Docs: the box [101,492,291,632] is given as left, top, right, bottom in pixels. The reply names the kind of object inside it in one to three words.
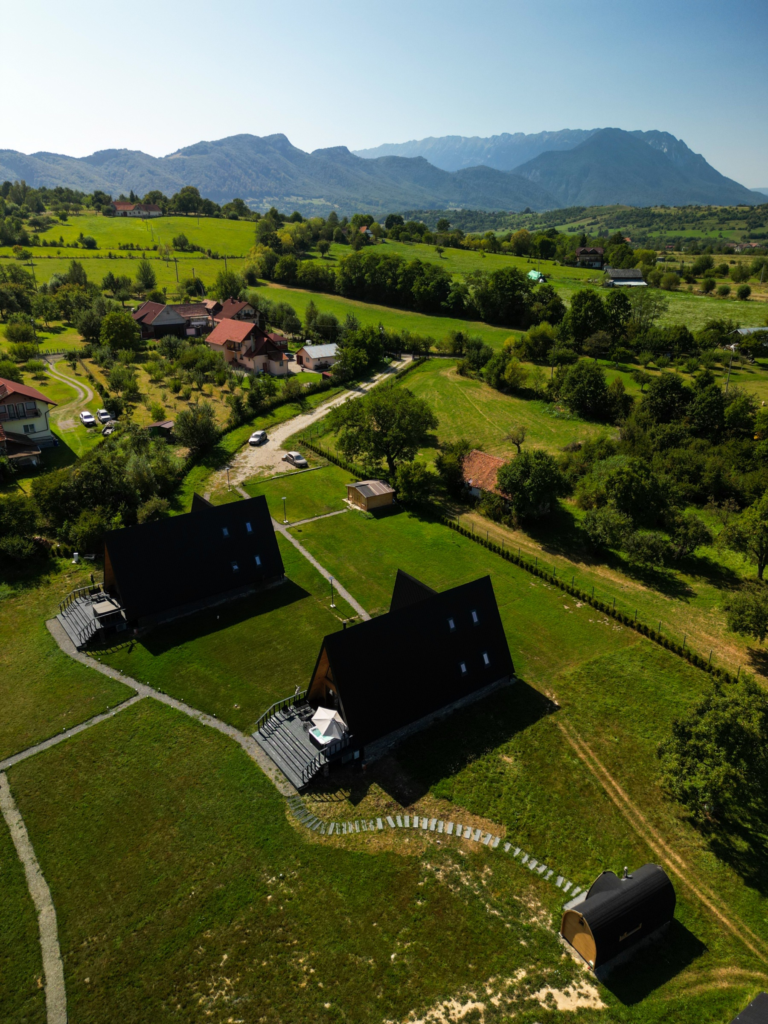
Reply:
building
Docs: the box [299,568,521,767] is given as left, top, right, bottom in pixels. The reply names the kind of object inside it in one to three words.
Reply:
building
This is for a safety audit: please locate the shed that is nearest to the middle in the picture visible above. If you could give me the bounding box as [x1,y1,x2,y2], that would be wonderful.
[340,478,395,512]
